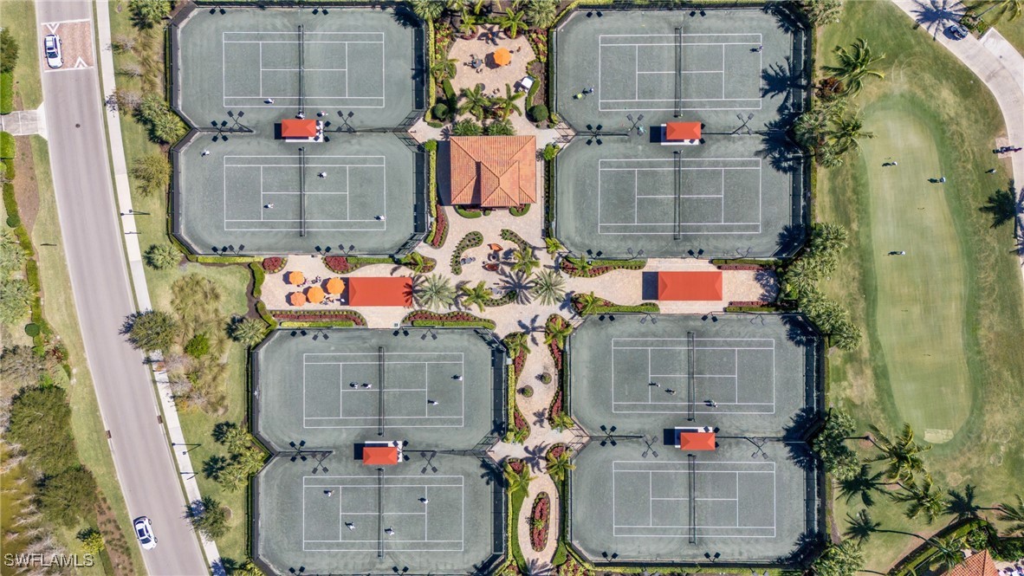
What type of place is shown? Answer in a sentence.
The picture captures a sports ground.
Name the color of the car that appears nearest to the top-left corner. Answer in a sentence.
The car that appears nearest to the top-left corner is white.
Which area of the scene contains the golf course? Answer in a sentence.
The golf course is located in the right region of the scene.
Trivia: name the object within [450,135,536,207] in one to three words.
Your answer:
building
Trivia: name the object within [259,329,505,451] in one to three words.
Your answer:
tennis court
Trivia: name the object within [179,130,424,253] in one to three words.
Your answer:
tennis court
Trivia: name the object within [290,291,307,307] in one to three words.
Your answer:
umbrella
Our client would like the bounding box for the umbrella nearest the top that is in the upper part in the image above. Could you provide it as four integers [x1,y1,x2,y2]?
[494,50,510,66]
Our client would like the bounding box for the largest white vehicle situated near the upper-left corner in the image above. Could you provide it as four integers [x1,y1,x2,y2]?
[40,33,61,67]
